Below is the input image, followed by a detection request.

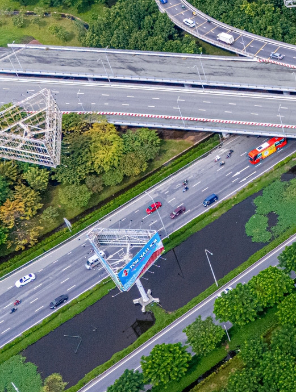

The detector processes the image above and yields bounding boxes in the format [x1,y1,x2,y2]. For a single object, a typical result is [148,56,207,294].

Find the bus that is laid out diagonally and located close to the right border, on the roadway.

[246,136,289,167]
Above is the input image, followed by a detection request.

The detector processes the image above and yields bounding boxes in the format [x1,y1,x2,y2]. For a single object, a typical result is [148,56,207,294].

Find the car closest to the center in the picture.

[145,200,164,214]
